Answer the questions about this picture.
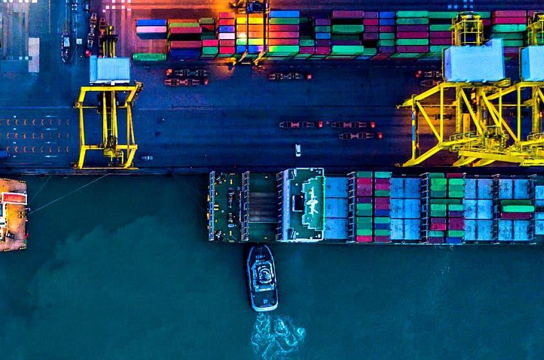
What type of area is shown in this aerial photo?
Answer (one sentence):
The picture captures a port.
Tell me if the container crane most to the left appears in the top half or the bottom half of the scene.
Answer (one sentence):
The container crane most to the left sits in the top half of the picture.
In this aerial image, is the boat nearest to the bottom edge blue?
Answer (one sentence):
Yes, the boat nearest to the bottom edge is blue.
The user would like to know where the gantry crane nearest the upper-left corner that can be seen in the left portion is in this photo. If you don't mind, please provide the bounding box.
[72,26,147,168]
